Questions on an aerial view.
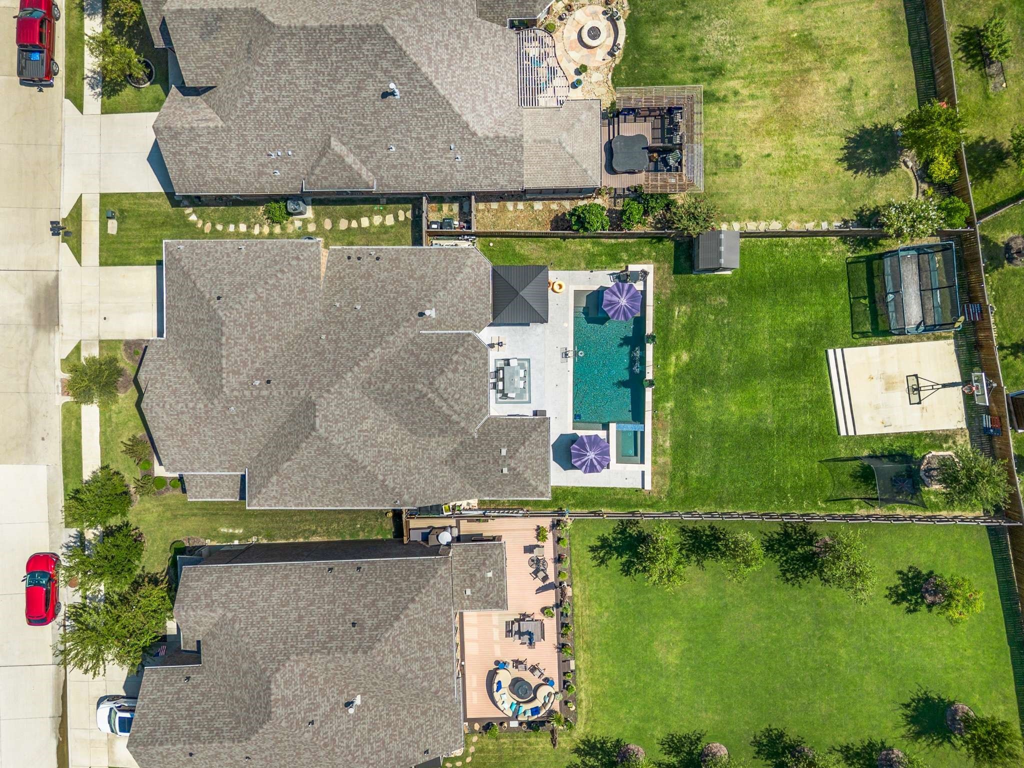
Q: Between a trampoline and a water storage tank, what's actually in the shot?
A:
trampoline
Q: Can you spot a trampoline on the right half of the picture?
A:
Yes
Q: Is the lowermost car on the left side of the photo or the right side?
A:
left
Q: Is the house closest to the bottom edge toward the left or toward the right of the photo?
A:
left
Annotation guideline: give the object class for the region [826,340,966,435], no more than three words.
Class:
sports court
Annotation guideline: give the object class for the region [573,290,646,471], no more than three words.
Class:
swimming pool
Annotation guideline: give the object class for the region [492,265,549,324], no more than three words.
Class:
gazebo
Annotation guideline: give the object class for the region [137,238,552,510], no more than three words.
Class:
house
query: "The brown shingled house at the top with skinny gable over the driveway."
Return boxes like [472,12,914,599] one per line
[142,0,603,205]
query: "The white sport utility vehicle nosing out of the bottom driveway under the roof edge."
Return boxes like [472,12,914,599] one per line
[97,696,138,737]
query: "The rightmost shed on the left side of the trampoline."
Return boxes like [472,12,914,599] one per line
[696,230,743,278]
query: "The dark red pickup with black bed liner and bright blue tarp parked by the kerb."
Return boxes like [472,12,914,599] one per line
[12,0,60,89]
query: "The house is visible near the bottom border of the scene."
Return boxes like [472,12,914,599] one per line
[127,537,508,768]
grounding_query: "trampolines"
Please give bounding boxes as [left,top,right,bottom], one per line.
[878,241,963,335]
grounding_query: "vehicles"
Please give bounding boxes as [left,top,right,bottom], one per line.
[21,552,63,625]
[12,0,60,89]
[97,696,138,737]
